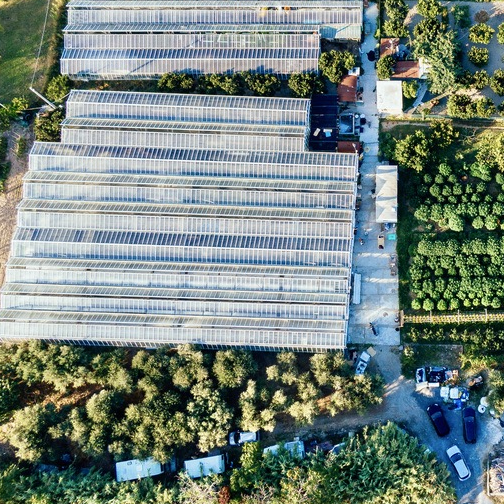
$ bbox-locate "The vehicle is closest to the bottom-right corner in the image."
[443,444,474,483]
